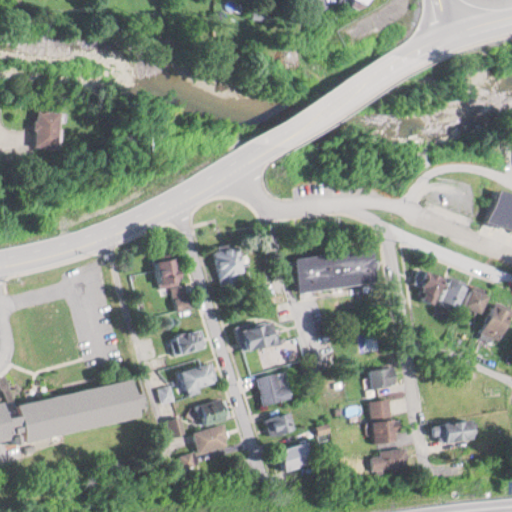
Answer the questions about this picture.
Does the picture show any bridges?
Yes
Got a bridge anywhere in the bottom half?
No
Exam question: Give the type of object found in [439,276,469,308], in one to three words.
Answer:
house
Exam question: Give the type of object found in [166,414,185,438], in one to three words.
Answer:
building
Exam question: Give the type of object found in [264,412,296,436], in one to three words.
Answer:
house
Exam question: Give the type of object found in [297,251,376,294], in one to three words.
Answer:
building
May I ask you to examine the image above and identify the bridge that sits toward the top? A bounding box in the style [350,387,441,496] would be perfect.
[245,44,420,158]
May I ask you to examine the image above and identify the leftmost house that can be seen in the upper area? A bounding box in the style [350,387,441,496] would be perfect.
[34,111,67,147]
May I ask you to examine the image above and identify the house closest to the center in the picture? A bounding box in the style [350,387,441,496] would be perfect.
[212,244,250,278]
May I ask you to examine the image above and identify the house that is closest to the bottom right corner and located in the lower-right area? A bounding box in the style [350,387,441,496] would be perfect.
[440,420,480,444]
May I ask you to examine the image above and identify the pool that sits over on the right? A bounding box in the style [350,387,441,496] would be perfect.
[344,404,362,422]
